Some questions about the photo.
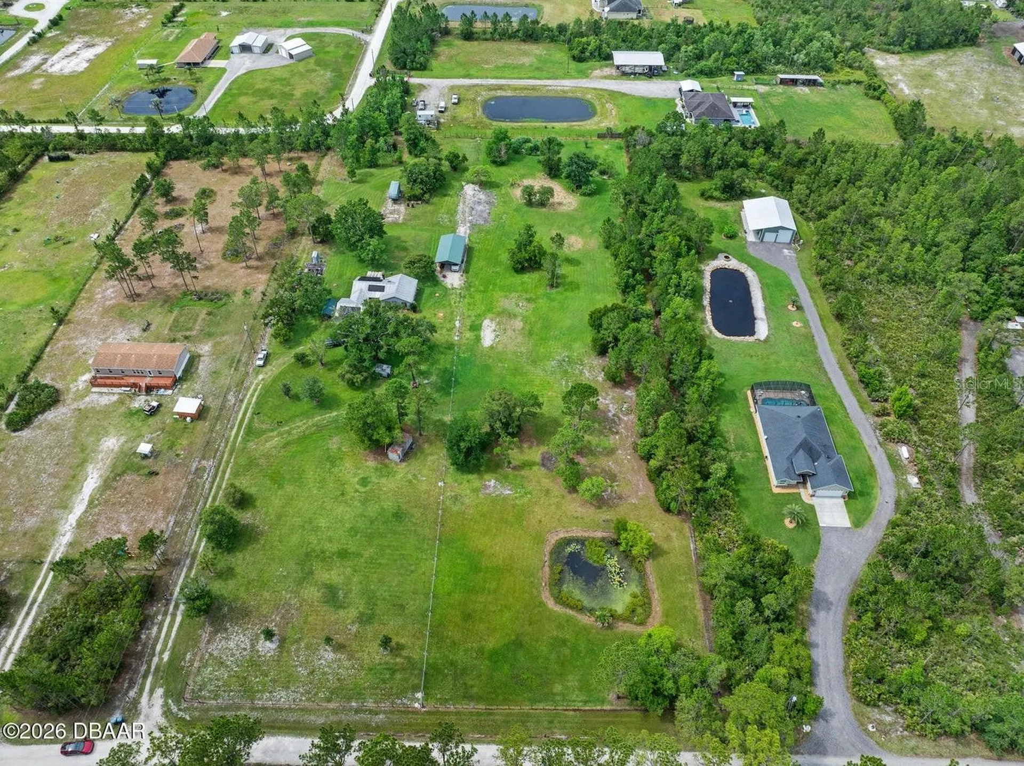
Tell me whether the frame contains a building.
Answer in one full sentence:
Yes, there is a building in the image.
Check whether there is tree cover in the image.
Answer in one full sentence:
Yes, the picture does contain tree cover.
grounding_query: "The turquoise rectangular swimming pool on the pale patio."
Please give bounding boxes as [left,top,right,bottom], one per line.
[737,109,757,125]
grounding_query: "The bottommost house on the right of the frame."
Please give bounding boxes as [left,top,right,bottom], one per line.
[754,406,853,498]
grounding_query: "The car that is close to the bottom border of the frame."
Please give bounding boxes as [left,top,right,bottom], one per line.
[58,743,93,760]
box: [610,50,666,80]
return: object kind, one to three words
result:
barn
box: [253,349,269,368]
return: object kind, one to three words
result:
vehicle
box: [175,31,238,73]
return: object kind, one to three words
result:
house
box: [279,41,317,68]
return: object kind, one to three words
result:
building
